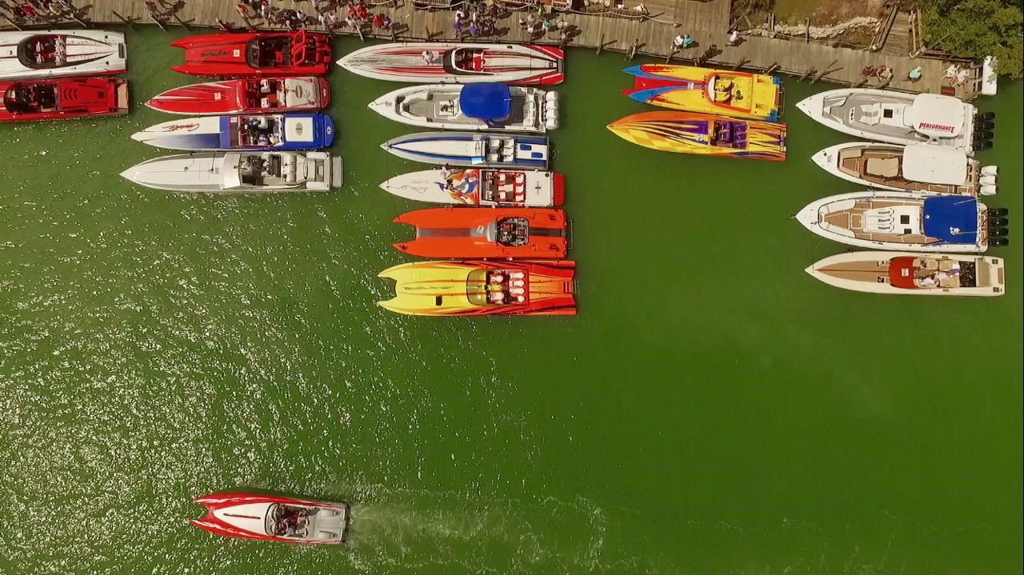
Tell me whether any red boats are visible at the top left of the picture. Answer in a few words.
Yes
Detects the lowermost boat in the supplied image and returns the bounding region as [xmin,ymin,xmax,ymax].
[192,494,353,544]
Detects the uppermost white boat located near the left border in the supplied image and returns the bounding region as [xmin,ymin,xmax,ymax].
[0,31,135,78]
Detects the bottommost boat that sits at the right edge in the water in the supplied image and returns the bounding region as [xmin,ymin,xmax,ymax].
[805,251,1005,296]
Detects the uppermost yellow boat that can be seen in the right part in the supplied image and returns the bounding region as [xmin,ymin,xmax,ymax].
[619,65,786,122]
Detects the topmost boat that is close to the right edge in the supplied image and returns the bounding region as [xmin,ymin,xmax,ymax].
[795,89,995,157]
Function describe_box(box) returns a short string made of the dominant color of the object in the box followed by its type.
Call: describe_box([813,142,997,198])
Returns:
white boat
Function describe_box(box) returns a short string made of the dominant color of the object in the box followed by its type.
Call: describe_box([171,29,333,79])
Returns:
red boat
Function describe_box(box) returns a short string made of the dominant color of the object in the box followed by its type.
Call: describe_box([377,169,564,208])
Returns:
white boat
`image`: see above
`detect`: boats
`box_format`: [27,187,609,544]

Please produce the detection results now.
[334,43,564,87]
[795,89,995,157]
[606,111,787,162]
[171,29,333,79]
[117,152,347,192]
[813,142,997,198]
[0,31,135,78]
[378,261,577,317]
[619,65,786,122]
[379,131,556,170]
[805,251,1005,296]
[143,78,331,117]
[129,115,335,153]
[0,78,135,121]
[192,494,353,544]
[393,209,573,259]
[792,191,1009,253]
[367,80,560,133]
[377,169,564,208]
